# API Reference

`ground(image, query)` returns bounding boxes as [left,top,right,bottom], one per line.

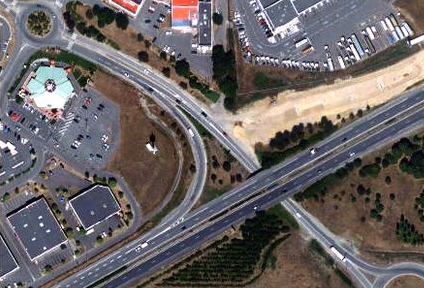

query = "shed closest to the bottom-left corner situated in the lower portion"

[0,235,19,279]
